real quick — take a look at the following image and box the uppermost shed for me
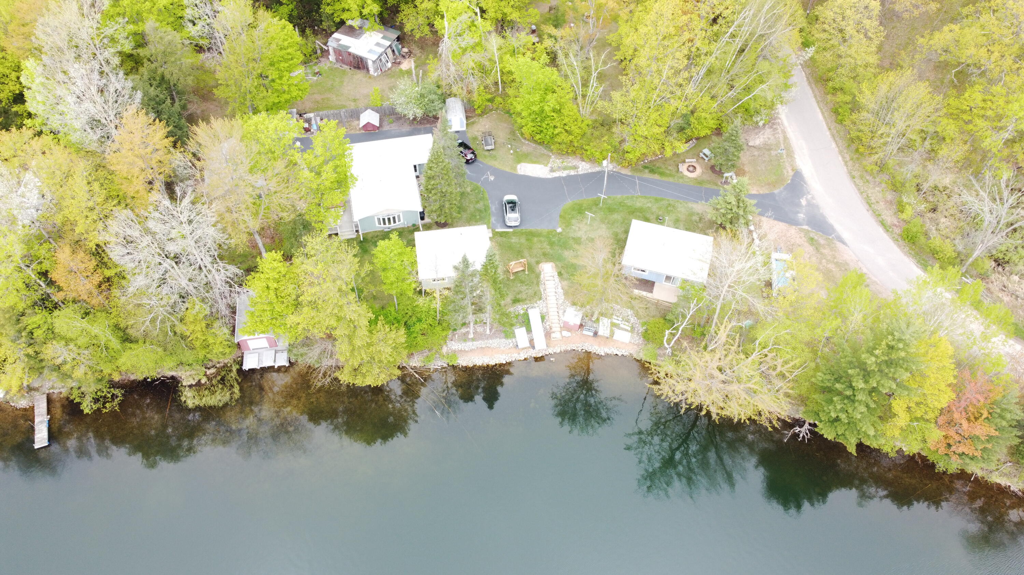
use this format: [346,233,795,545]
[325,17,402,75]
